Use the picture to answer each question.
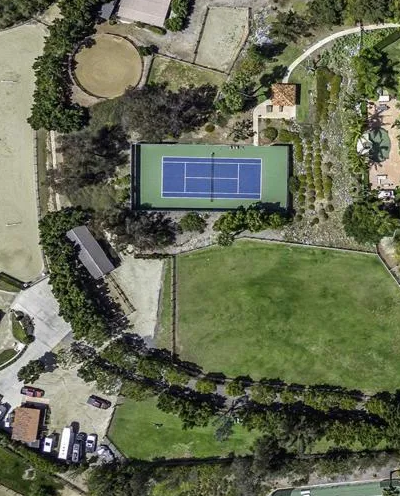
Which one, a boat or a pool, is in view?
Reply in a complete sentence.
I can see a pool in this picture.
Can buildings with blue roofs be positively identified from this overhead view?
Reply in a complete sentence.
No, I find no building with a blue roof anywhere in the image.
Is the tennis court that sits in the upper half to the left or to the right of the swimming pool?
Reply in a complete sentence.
The tennis court that sits in the upper half is to the left of the swimming pool.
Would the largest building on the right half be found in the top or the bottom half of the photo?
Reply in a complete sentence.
The top half of the photo is where the largest building on the right half is.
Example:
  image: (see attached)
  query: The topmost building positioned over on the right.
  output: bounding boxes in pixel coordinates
[272,84,295,105]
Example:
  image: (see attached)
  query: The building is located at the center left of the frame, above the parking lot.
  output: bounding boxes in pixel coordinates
[69,225,118,279]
